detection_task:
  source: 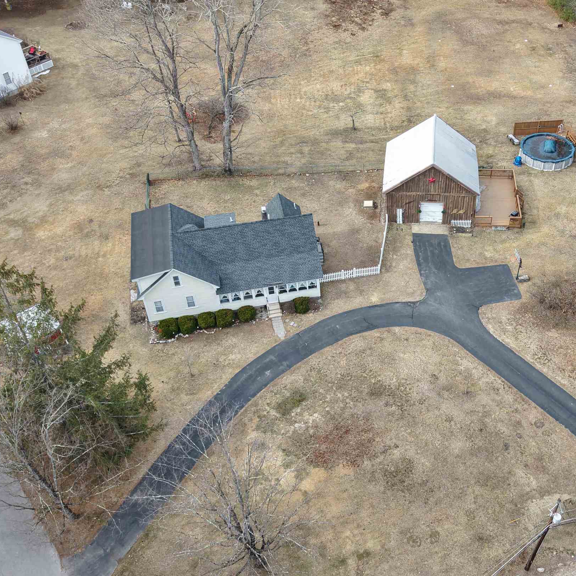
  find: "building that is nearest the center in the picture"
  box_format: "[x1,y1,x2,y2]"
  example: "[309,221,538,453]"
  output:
[130,192,331,322]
